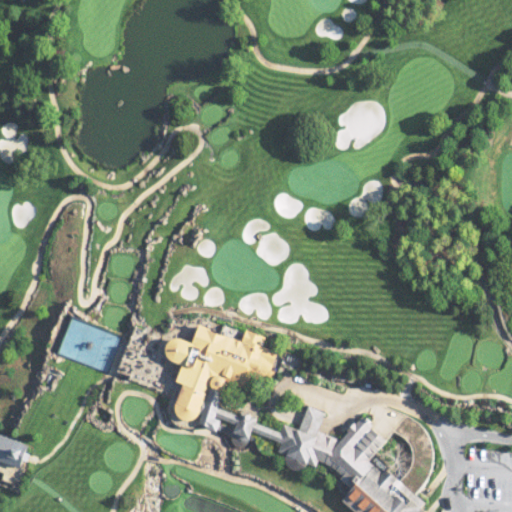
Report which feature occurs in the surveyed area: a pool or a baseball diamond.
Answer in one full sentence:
Looking from above, you can make out a pool.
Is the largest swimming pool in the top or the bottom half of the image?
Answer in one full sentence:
The largest swimming pool sits in the bottom half of the picture.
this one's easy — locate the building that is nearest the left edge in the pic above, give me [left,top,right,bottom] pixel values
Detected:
[0,432,30,470]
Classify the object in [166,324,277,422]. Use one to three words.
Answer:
building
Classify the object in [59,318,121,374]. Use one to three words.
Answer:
swimming pool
